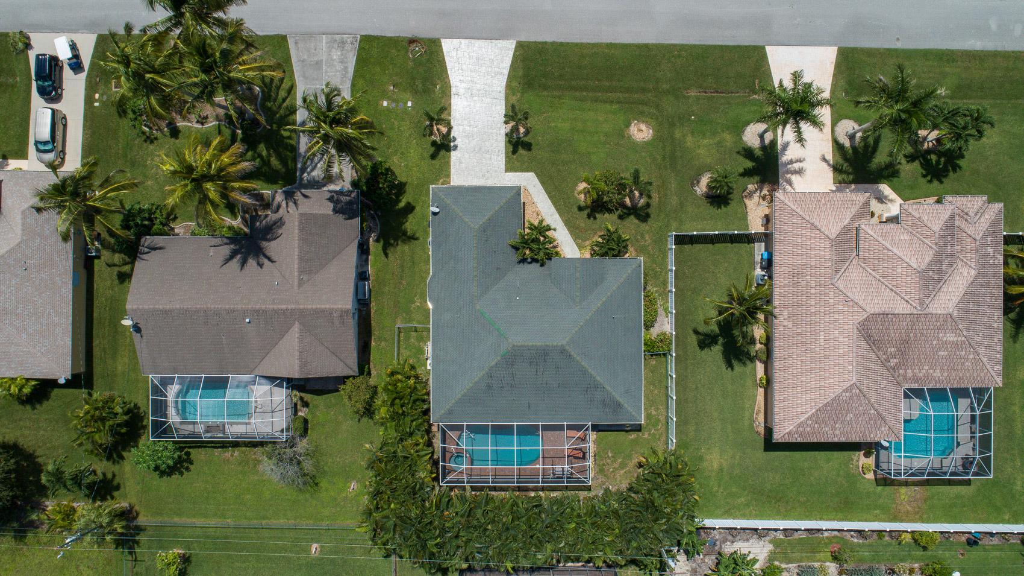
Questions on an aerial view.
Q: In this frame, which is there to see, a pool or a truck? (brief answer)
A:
pool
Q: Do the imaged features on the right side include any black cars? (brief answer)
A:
No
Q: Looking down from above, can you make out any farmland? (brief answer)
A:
No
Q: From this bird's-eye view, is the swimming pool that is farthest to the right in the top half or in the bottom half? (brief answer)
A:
bottom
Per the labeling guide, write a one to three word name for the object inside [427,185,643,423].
house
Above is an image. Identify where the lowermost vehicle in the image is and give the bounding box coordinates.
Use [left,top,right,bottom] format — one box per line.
[32,106,67,167]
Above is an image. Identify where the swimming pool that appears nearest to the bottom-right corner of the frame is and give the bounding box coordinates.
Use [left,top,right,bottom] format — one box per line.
[904,390,960,460]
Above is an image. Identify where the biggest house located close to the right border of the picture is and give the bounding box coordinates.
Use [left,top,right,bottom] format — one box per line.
[766,191,1004,443]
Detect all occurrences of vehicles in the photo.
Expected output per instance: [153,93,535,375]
[57,38,89,72]
[32,106,67,167]
[34,51,65,101]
